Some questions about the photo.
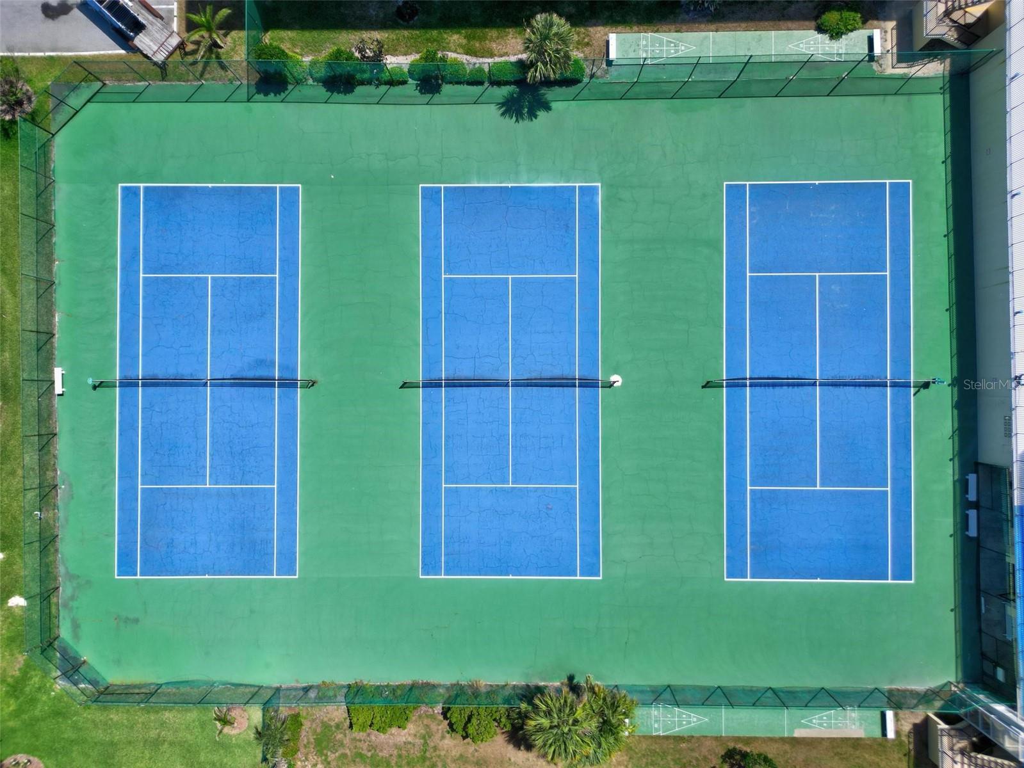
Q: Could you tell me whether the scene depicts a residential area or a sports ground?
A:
sports ground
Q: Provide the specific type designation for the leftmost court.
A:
tennis court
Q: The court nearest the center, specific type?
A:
tennis court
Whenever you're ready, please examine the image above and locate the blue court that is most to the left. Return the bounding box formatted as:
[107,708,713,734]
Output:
[115,184,301,578]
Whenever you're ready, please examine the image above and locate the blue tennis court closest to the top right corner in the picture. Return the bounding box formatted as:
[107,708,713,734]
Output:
[724,180,914,583]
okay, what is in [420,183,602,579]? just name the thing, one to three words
tennis court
